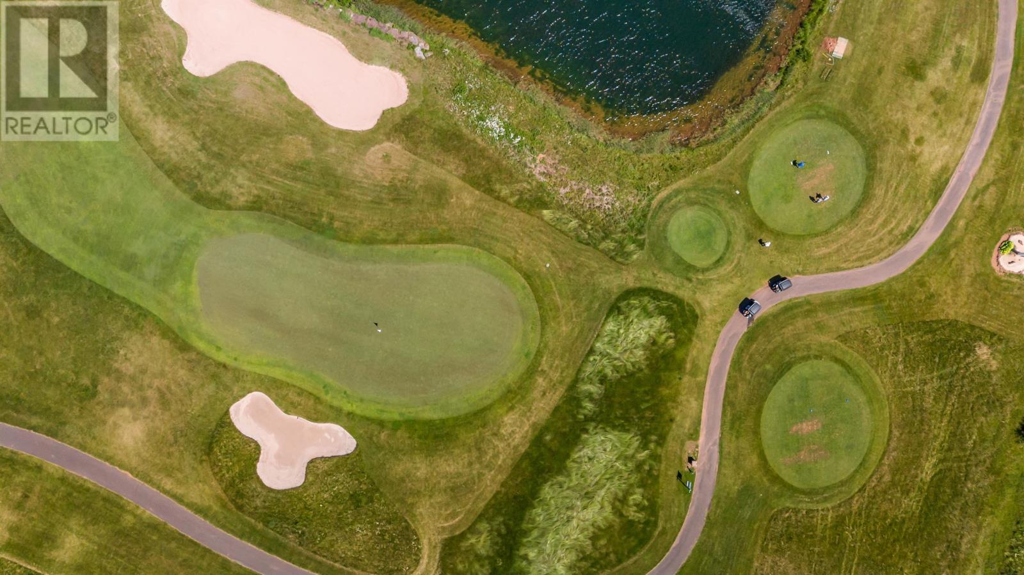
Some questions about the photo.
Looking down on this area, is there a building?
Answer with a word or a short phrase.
No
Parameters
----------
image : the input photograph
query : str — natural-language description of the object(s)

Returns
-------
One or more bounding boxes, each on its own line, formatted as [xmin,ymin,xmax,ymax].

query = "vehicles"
[742,300,762,318]
[771,278,792,292]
